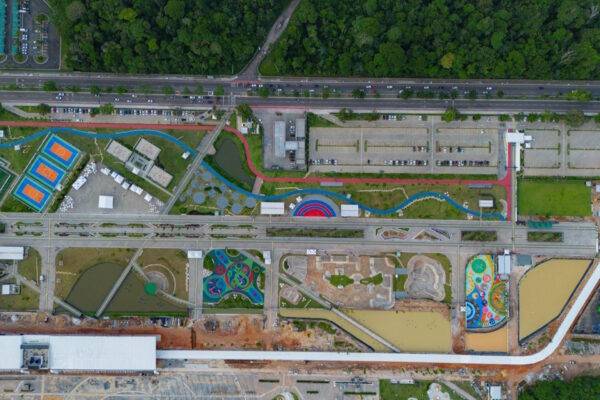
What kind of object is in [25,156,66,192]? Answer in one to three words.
sports court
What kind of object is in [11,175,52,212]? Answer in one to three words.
sports court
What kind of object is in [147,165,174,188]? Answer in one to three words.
building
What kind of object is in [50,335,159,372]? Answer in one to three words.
building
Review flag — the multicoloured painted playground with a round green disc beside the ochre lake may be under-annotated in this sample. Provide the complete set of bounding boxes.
[466,254,508,329]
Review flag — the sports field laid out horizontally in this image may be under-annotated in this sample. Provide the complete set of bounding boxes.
[517,180,593,217]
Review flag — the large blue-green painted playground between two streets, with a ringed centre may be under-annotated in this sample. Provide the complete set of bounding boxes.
[203,249,266,314]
